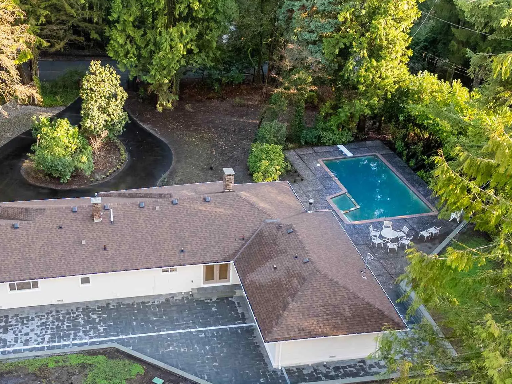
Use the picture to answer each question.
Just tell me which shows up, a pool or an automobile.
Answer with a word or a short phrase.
pool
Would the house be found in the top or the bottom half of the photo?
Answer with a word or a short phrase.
bottom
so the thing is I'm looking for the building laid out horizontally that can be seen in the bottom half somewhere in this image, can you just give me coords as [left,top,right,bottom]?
[0,164,410,369]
